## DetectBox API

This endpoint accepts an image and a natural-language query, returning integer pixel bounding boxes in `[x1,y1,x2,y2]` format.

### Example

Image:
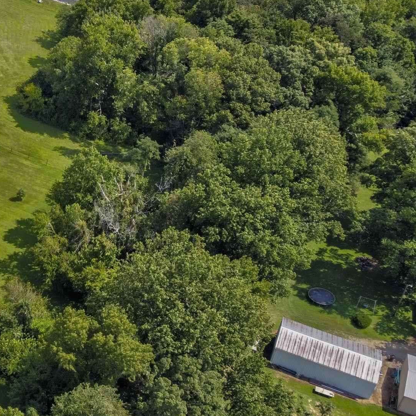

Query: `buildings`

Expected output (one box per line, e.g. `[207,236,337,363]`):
[398,352,416,416]
[270,316,382,399]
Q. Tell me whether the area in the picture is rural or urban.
rural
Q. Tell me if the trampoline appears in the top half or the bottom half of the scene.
bottom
